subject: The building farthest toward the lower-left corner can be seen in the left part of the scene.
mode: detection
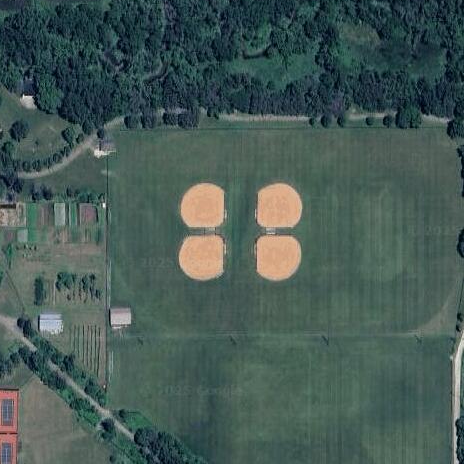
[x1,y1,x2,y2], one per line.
[40,315,63,331]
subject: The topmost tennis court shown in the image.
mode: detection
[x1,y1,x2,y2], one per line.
[0,389,18,432]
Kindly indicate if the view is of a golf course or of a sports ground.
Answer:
sports ground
